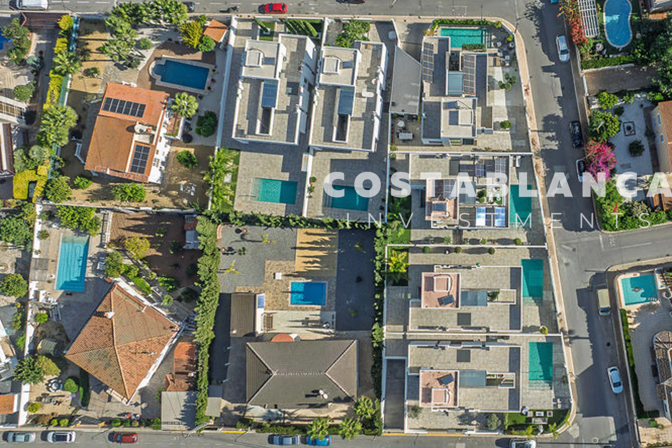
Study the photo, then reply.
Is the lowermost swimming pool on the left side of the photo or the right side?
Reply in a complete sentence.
It is on the right.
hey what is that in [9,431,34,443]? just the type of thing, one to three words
vehicle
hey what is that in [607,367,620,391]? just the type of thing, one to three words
vehicle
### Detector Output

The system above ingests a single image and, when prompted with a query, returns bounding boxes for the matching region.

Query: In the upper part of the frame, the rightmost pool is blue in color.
[603,0,634,48]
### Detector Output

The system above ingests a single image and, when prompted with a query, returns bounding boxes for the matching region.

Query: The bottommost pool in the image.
[529,342,553,390]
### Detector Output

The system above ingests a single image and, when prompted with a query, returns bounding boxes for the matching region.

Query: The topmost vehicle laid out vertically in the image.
[556,35,570,61]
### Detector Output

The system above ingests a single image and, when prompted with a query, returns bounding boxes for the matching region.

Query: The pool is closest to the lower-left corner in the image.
[54,233,91,292]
